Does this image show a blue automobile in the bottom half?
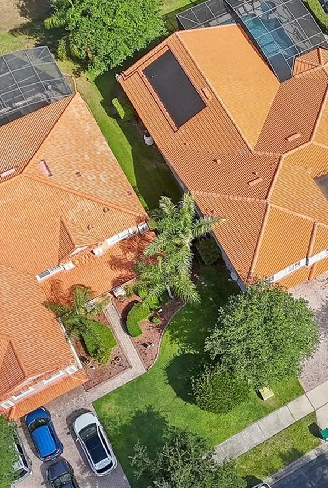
Yes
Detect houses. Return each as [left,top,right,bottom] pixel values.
[116,21,328,292]
[0,91,171,422]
